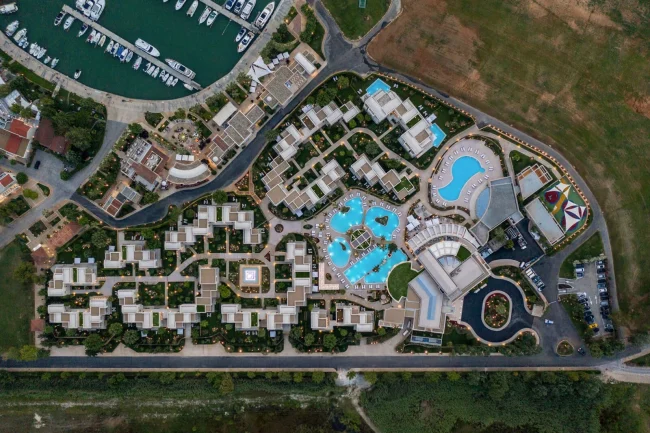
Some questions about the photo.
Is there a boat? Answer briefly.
Yes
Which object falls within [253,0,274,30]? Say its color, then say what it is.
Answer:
white boat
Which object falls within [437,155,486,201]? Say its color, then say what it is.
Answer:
blue swimming pool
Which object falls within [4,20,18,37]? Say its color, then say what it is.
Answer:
white boat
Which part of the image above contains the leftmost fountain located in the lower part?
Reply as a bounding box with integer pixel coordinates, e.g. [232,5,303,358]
[239,265,262,287]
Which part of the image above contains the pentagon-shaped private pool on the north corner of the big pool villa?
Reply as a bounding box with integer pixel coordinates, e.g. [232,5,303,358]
[366,77,392,97]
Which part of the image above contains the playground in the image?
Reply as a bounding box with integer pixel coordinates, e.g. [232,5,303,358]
[542,177,588,236]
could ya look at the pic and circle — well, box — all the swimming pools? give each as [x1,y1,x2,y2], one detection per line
[329,196,364,234]
[328,237,351,268]
[343,246,408,285]
[364,206,400,241]
[429,123,446,147]
[437,155,486,201]
[366,77,392,97]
